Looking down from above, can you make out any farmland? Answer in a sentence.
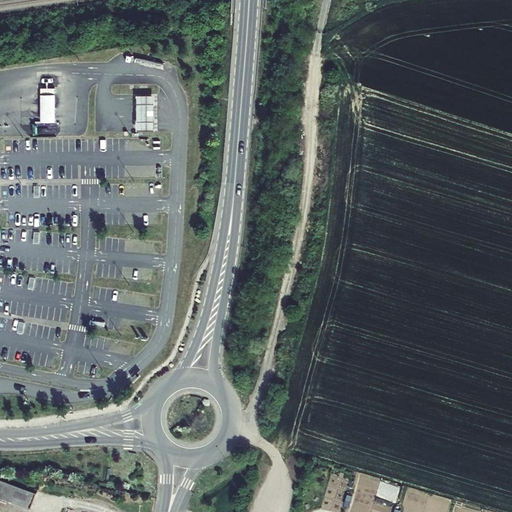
Yes, farmland can be seen from above here.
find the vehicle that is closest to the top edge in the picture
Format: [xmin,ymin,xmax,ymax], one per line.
[124,56,162,70]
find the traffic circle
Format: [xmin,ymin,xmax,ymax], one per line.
[143,370,240,466]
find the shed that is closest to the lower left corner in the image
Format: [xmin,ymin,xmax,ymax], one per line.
[0,482,34,510]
